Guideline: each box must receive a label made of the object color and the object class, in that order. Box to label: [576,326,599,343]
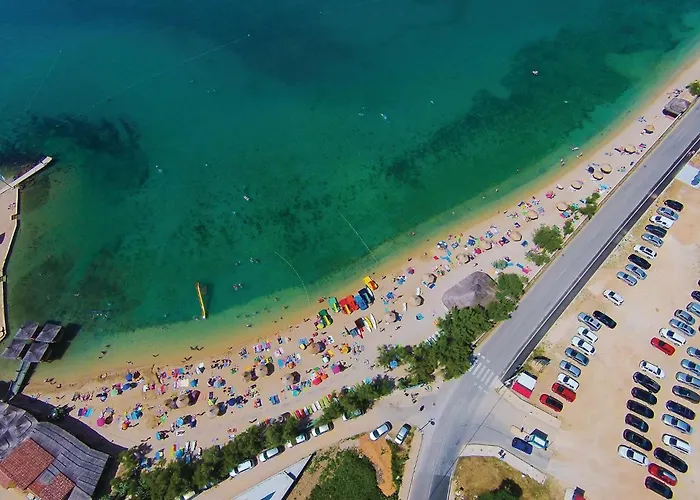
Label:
white car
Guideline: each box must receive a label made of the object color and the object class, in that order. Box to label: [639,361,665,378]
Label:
white car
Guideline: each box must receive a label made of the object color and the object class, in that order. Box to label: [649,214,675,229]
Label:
white vehicle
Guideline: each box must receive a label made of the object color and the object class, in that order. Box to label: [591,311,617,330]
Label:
black car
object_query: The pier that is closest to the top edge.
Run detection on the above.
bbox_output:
[0,154,53,343]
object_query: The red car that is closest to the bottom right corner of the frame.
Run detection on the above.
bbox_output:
[647,463,677,486]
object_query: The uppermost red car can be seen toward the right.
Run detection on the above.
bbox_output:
[649,338,676,356]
